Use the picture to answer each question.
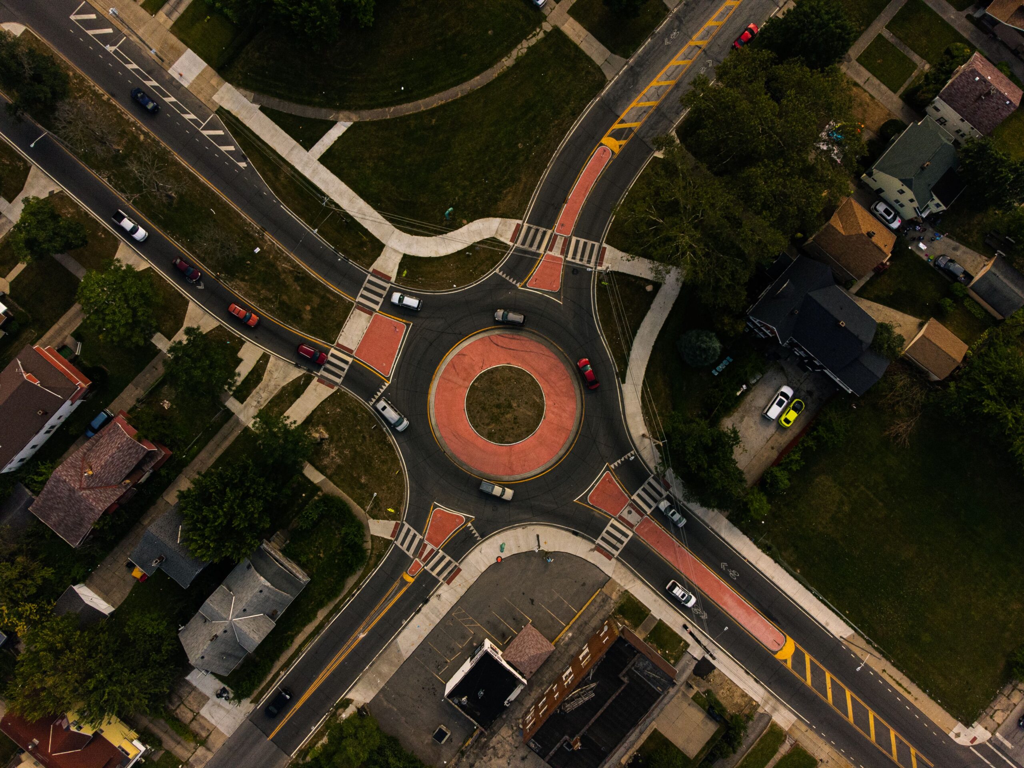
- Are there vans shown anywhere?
Yes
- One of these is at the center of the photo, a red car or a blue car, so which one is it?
red car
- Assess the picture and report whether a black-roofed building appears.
Yes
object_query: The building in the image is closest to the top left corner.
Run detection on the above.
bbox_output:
[0,299,28,340]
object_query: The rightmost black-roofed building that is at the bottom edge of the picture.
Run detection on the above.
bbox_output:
[524,618,679,768]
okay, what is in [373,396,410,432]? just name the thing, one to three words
van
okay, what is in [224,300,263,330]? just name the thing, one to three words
car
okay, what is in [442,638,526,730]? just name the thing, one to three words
building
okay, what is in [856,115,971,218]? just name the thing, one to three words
house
